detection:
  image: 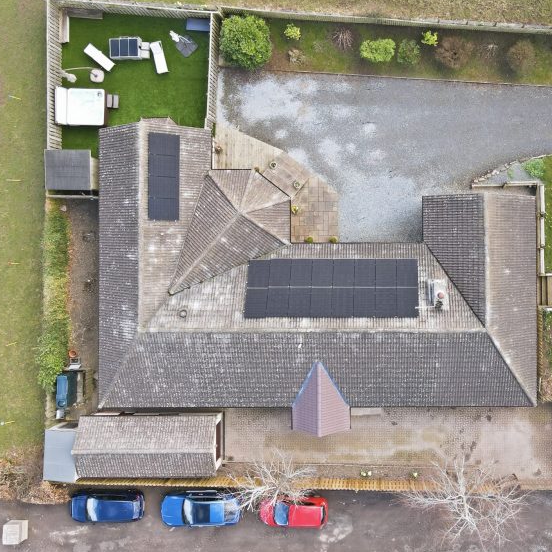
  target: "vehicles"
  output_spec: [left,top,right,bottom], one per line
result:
[72,488,147,527]
[162,490,241,531]
[260,494,328,532]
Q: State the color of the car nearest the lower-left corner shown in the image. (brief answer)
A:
blue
